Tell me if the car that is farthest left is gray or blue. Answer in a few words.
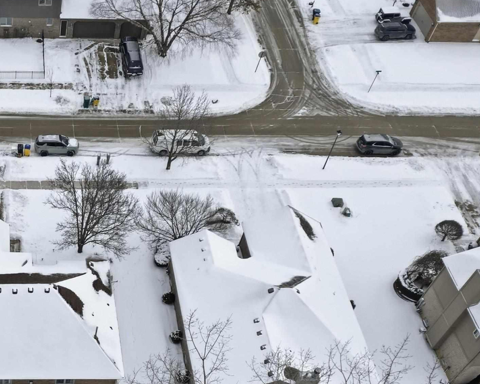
gray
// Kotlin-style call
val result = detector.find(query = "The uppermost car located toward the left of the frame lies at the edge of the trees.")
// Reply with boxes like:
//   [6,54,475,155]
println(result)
[122,38,148,70]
